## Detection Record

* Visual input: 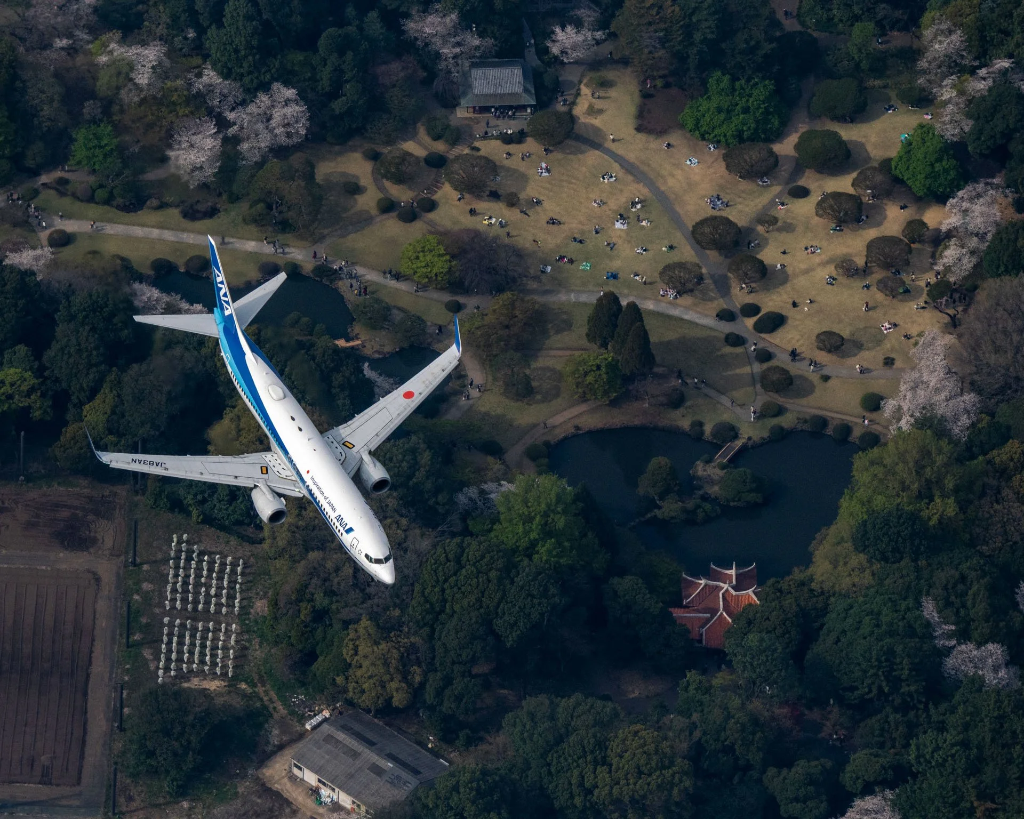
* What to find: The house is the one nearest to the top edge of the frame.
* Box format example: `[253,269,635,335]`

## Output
[457,62,535,123]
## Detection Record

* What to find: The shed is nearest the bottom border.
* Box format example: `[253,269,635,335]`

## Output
[290,709,451,819]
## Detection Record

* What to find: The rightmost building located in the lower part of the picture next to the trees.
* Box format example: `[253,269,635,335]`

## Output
[667,559,777,652]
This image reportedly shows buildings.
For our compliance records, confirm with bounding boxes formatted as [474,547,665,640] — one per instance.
[290,709,451,819]
[667,559,777,652]
[457,62,535,123]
